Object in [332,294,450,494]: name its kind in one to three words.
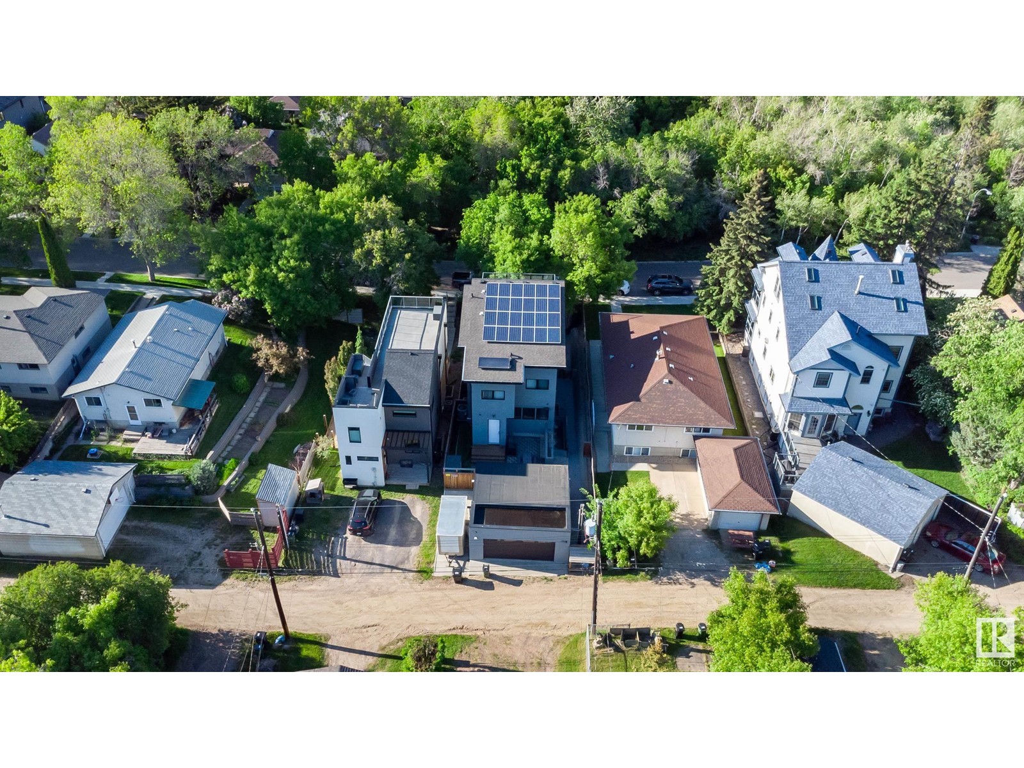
house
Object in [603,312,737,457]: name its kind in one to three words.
house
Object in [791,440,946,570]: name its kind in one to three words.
building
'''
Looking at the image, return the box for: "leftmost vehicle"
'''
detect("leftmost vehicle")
[348,481,386,532]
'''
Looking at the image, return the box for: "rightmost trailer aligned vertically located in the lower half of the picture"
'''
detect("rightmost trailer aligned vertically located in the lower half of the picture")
[436,495,468,572]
